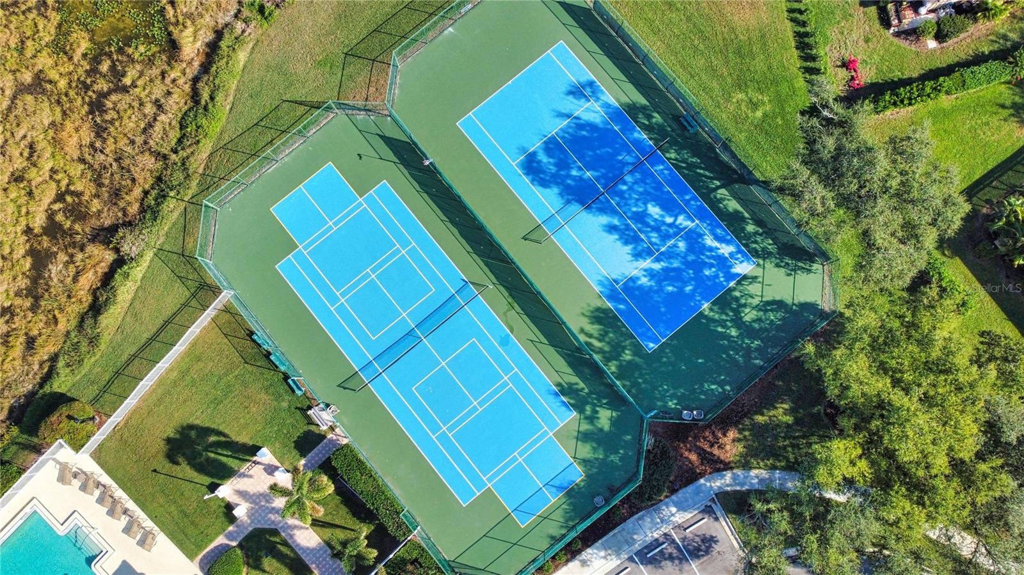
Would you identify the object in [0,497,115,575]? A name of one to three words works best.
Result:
swimming pool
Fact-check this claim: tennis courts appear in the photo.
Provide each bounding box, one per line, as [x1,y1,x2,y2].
[212,113,641,575]
[390,0,823,420]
